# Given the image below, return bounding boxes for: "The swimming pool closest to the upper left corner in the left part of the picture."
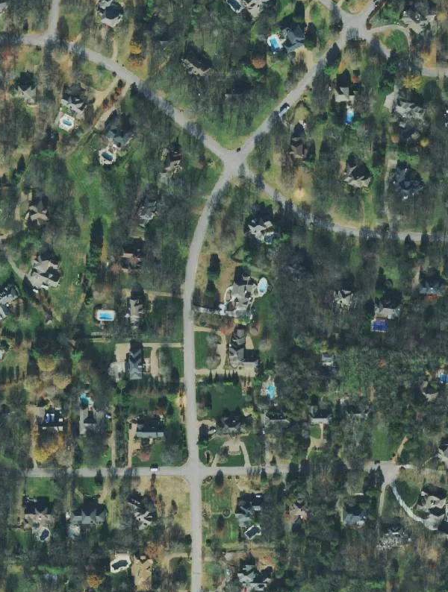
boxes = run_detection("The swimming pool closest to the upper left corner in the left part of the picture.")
[60,114,75,129]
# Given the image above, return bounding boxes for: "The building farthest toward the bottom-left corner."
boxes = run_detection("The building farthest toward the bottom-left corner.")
[22,502,50,523]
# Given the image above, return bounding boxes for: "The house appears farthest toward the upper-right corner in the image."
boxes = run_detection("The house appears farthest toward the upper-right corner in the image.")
[401,6,436,29]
